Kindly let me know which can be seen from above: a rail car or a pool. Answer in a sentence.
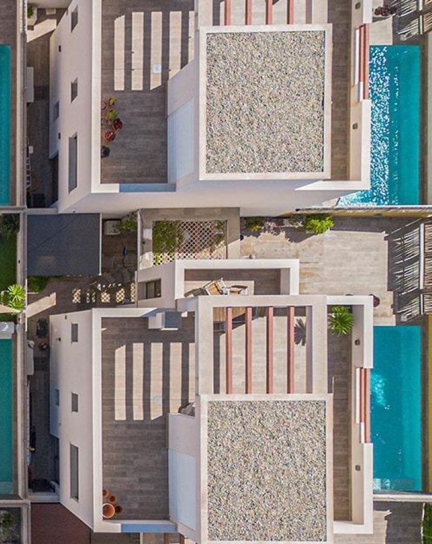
Visible in the photo is a pool.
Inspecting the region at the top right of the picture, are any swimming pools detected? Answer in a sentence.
Yes, at the top right of the picture there is a swimming pool.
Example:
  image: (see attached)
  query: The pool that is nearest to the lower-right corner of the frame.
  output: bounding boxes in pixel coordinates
[359,324,422,488]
